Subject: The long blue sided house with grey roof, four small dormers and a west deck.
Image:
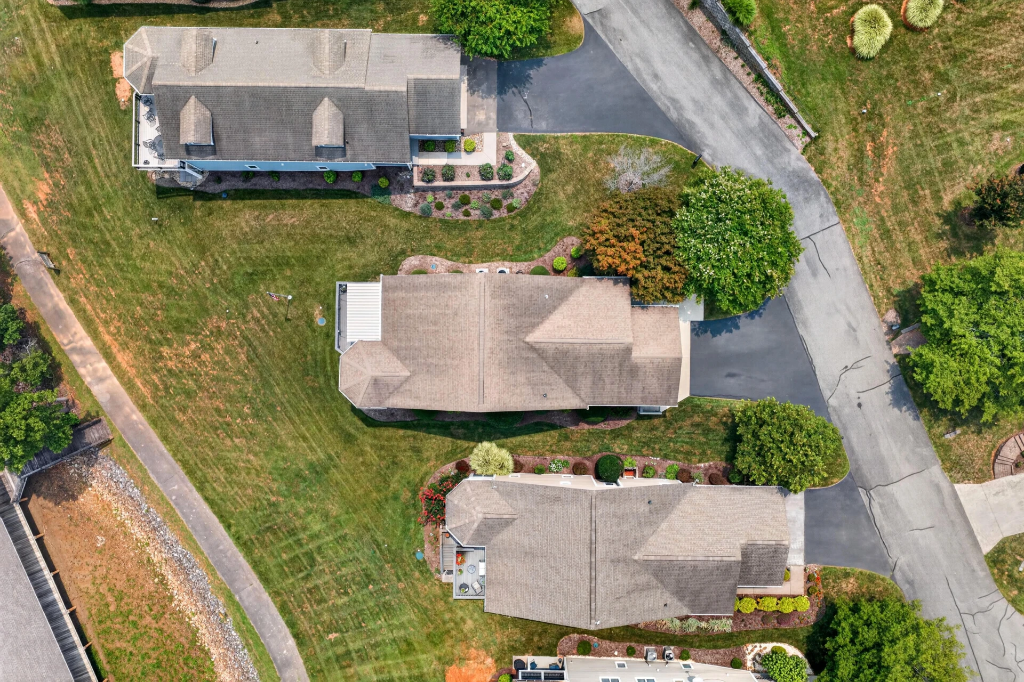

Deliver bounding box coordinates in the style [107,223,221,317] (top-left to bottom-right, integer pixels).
[122,25,464,171]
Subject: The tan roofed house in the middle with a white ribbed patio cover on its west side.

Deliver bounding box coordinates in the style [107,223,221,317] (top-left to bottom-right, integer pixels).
[338,272,683,419]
